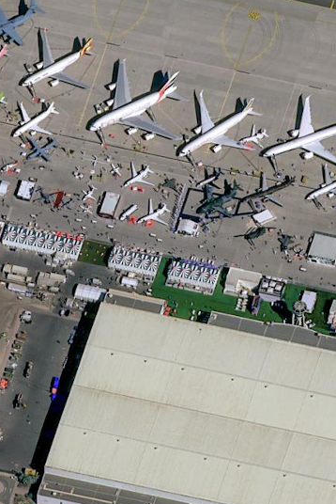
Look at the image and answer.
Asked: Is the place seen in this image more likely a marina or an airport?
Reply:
airport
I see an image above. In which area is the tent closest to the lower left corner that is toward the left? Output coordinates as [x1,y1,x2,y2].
[74,283,106,304]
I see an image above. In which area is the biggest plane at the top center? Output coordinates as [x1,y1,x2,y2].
[89,58,189,140]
